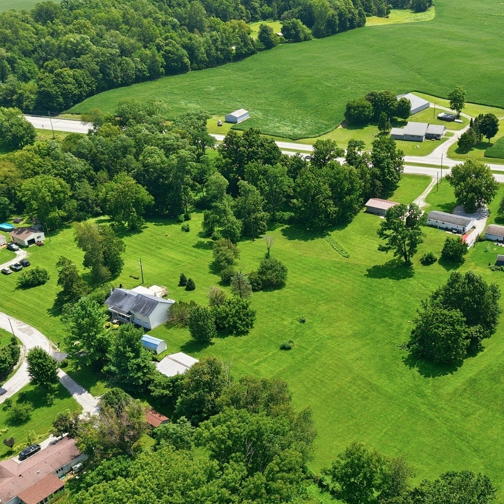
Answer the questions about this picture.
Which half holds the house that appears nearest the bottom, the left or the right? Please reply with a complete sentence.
It is on the left.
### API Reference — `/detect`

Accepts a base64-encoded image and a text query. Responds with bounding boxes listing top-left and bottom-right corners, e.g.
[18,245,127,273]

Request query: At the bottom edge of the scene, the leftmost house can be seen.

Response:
[0,438,88,504]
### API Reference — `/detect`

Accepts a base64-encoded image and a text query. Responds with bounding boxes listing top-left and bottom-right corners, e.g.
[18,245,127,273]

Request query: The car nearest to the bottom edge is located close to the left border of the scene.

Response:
[15,439,43,459]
